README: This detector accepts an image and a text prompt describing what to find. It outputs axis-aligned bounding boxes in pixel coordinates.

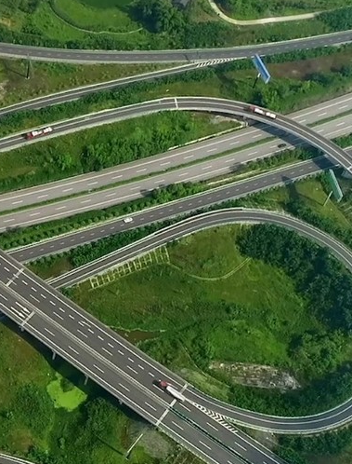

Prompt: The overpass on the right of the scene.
[172,96,352,171]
